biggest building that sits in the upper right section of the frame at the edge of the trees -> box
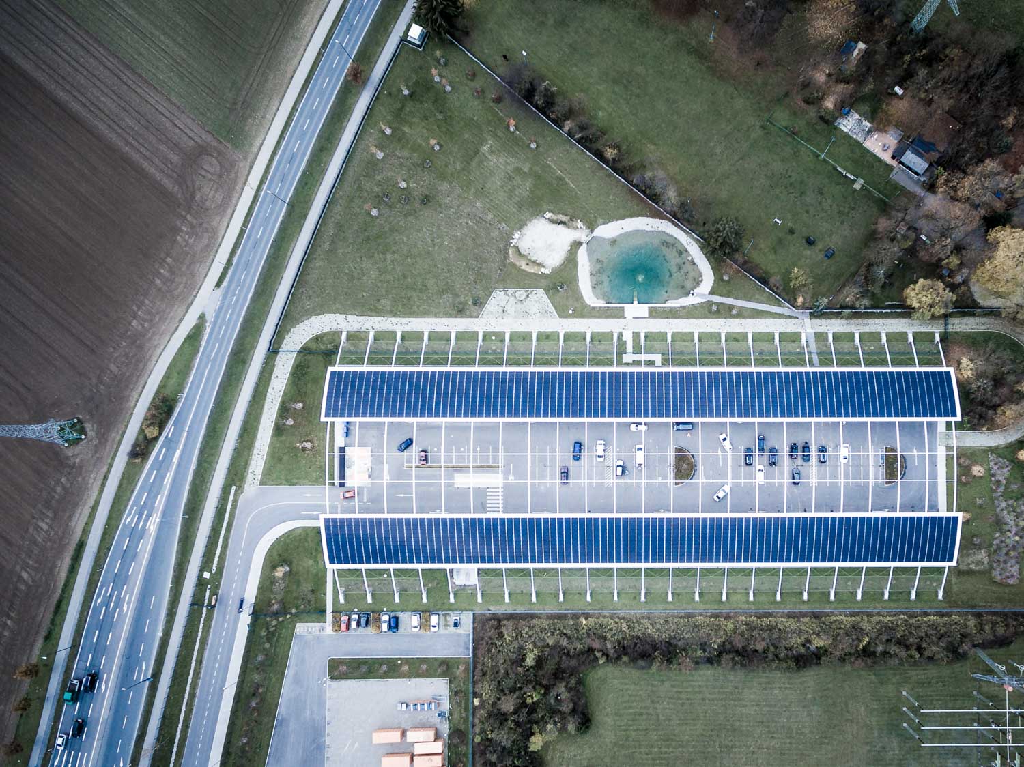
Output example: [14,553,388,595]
[892,132,938,180]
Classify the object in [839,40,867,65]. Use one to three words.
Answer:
shed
